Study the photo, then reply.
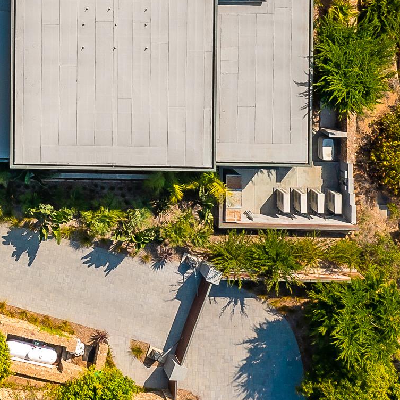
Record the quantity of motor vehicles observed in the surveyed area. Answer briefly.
0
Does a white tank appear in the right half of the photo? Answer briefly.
No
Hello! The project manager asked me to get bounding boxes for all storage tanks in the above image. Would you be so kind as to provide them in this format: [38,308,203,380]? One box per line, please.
[1,338,61,369]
